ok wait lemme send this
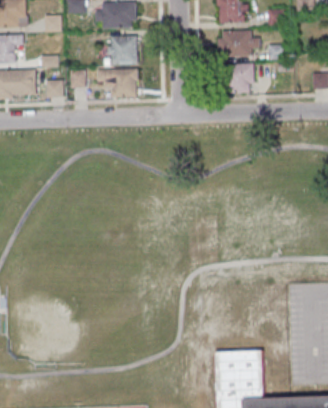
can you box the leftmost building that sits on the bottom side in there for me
[215,350,262,408]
